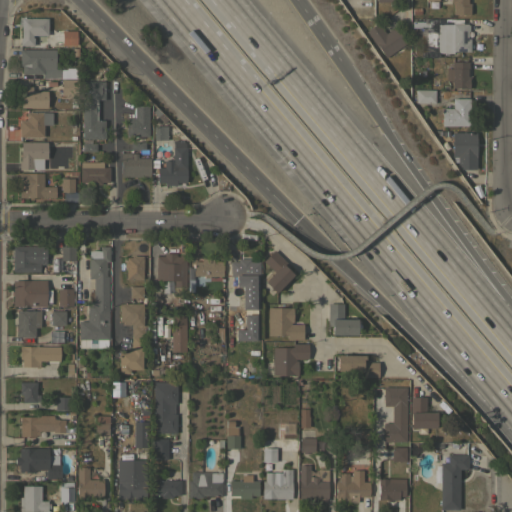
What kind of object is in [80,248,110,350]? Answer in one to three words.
building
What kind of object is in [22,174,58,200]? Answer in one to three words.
house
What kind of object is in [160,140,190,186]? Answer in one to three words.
house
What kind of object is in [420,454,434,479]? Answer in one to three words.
swimming pool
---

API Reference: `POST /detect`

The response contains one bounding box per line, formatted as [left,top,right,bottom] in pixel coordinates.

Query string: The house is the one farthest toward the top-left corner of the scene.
[22,18,50,46]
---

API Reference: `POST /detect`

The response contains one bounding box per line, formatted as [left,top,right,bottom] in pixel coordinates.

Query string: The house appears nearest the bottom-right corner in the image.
[437,454,472,512]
